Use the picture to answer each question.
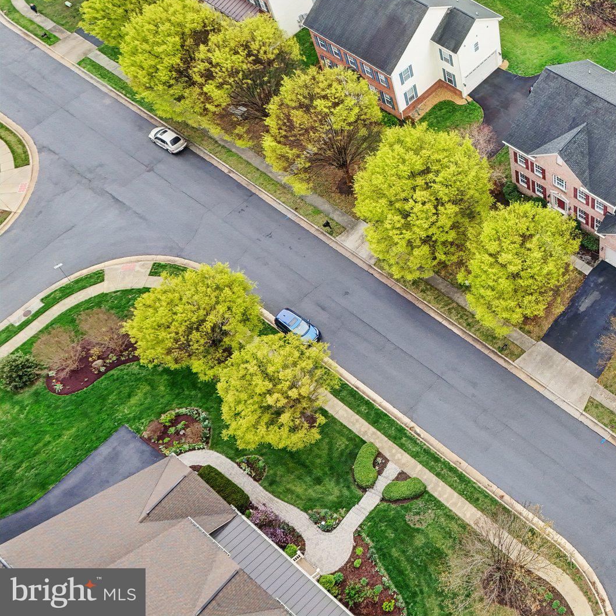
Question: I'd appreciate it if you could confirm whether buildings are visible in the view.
Yes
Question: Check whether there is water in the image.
No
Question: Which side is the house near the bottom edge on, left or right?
left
